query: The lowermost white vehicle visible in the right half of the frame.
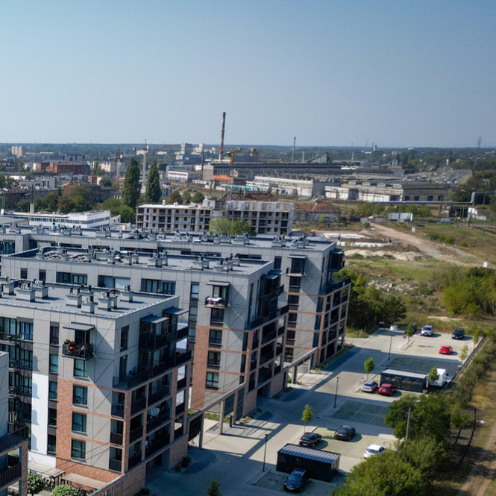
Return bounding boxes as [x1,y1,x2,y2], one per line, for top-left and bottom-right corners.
[360,442,384,460]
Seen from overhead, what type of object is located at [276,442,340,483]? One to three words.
shed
